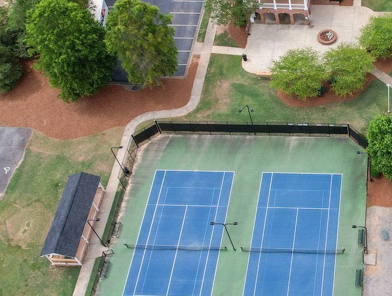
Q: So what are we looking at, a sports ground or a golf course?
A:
sports ground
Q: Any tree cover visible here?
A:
Yes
